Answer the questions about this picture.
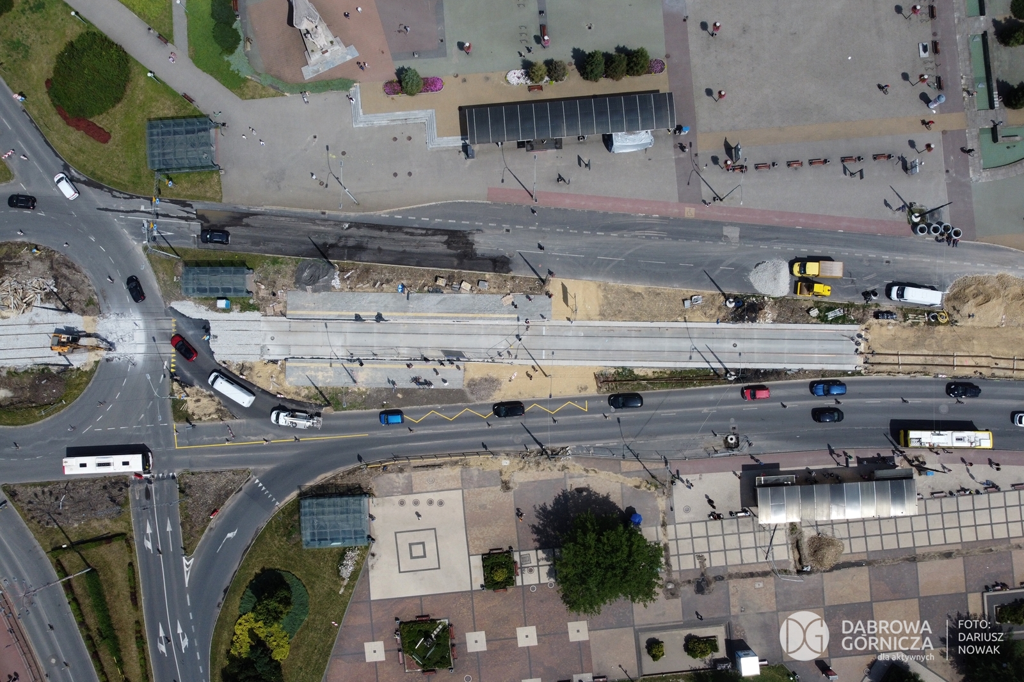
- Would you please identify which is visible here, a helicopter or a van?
van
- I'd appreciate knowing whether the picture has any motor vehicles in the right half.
Yes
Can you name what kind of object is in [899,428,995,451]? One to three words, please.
bus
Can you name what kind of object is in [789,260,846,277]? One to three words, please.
vehicle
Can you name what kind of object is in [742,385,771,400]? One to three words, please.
car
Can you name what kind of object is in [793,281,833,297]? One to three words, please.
work vehicle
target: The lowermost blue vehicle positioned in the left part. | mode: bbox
[379,410,405,425]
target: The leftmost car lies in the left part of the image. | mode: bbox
[7,194,39,209]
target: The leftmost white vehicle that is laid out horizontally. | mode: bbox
[62,451,157,474]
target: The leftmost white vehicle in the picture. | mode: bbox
[54,172,81,201]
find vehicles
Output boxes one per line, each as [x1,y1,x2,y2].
[62,451,157,474]
[172,334,199,362]
[608,393,642,409]
[7,194,39,209]
[1010,412,1024,425]
[810,380,846,396]
[126,274,147,305]
[493,401,525,417]
[789,260,846,277]
[272,408,328,429]
[212,372,255,407]
[742,385,771,400]
[793,281,833,297]
[887,285,944,304]
[200,228,233,244]
[946,382,982,397]
[899,428,995,451]
[54,172,81,201]
[379,410,405,425]
[50,333,113,353]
